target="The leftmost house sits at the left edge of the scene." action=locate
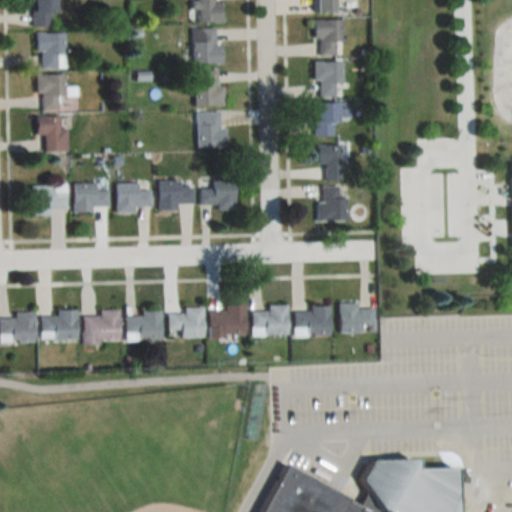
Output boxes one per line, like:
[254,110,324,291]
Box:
[0,312,38,346]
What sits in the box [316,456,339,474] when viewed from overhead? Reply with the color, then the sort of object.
white vehicle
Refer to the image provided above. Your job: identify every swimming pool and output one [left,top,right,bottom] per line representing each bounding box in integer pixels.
[148,88,161,101]
[226,343,240,356]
